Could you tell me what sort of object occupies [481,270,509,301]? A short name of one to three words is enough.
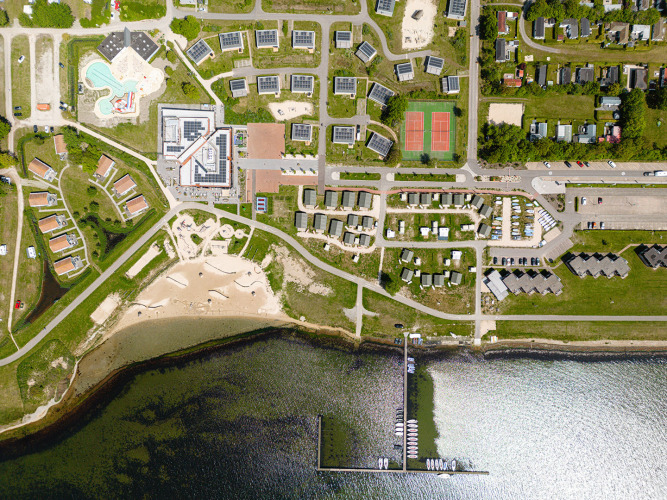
building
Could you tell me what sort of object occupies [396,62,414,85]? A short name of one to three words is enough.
house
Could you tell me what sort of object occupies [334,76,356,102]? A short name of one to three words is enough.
house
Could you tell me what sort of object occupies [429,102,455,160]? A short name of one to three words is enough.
tennis court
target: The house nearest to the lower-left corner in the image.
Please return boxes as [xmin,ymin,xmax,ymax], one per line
[54,255,87,275]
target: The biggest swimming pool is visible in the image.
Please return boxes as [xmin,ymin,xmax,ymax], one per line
[81,49,165,118]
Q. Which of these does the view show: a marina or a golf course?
marina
